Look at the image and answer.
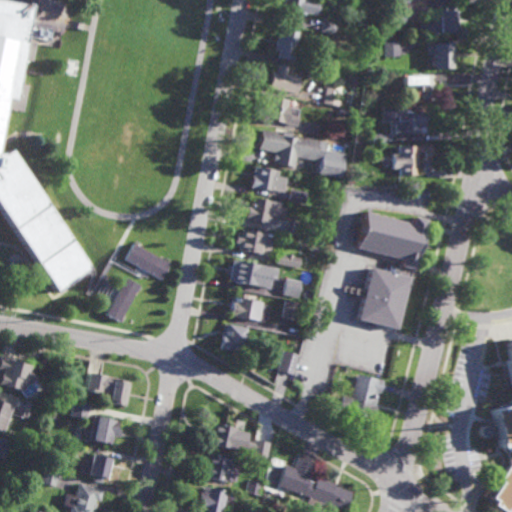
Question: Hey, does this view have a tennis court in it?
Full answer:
No, this view has no tennis court in it.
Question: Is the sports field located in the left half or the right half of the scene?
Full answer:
The sports field appears in the left half of the scene.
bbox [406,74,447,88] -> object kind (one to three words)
building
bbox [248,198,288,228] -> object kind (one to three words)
house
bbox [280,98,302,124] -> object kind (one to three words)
building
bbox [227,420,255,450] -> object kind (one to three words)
house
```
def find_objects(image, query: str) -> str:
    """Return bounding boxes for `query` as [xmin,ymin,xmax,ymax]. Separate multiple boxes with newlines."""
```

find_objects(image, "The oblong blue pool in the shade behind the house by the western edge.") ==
[21,380,40,398]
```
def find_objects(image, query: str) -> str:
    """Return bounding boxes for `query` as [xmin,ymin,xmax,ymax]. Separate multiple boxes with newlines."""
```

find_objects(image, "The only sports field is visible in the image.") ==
[72,0,206,214]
